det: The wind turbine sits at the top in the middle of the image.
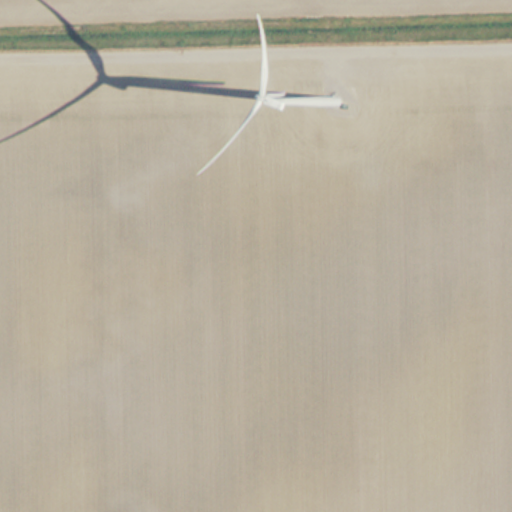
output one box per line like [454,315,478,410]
[200,14,343,172]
